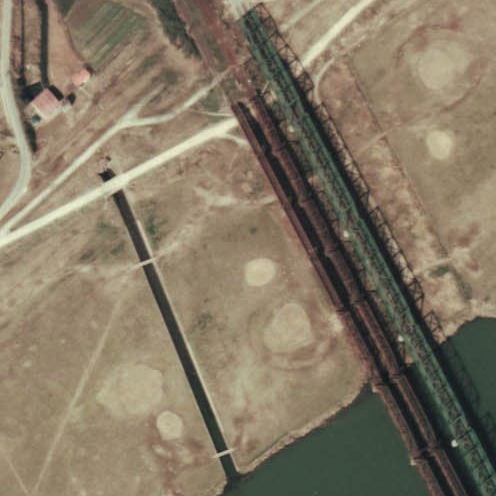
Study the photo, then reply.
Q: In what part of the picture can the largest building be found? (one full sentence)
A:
You can find the largest building in the top left area of the picture.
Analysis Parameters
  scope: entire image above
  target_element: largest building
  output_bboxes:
[32,89,62,122]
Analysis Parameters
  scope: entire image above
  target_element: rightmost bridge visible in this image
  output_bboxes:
[239,15,496,496]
